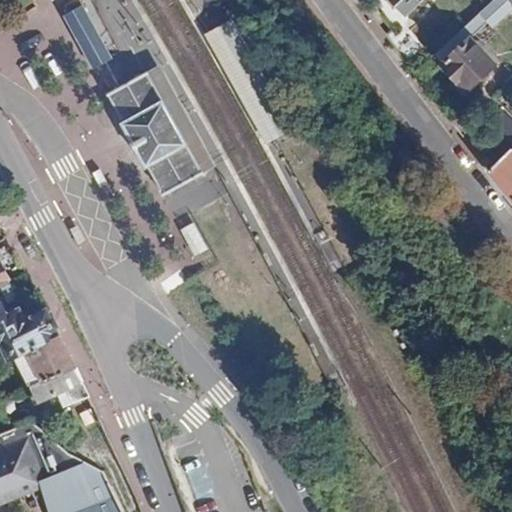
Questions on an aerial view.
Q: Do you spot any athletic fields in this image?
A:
No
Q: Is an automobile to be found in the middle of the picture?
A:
No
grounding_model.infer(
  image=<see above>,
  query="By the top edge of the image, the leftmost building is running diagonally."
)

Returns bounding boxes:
[62,6,124,90]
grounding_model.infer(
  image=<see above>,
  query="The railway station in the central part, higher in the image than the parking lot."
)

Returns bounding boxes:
[106,0,357,406]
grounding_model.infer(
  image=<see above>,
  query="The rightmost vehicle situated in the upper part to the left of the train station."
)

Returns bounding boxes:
[44,51,64,76]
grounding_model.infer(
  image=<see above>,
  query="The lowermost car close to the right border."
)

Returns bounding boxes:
[487,189,506,210]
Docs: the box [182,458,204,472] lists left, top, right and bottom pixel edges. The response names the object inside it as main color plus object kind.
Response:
white car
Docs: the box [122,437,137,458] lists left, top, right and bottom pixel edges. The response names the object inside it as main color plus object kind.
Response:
white car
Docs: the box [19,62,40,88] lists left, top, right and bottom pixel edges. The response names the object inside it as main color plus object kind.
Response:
white vehicle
